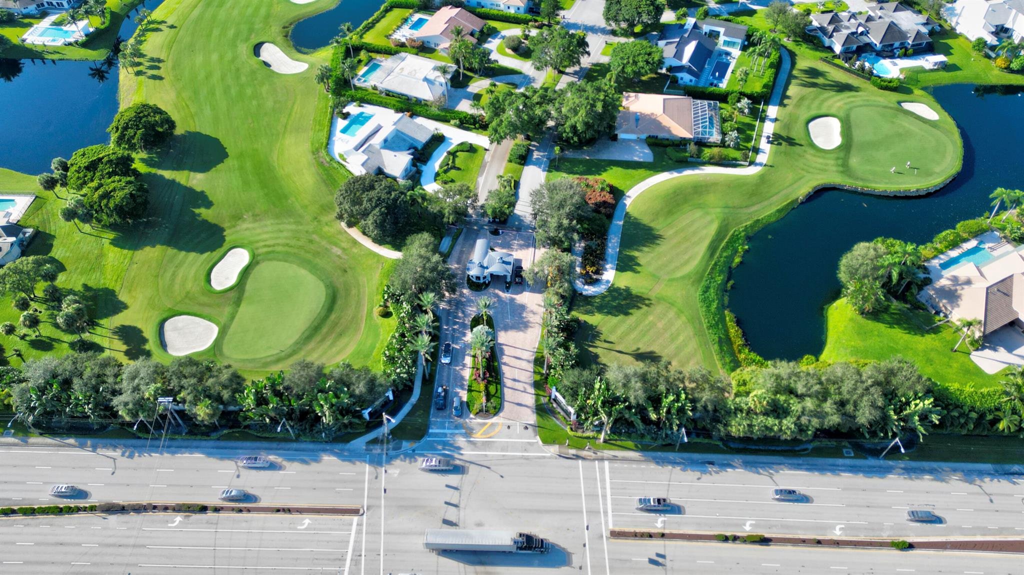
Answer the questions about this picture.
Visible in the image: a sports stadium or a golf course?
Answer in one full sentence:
Of the two, only a golf course appears.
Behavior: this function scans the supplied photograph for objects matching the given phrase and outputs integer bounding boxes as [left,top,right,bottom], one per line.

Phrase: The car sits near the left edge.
[49,486,78,498]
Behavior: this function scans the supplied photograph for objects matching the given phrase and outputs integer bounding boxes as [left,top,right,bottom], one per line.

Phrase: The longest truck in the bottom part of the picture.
[423,534,548,558]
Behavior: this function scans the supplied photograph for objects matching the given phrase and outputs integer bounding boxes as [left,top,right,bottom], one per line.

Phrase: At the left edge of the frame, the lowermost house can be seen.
[0,225,37,268]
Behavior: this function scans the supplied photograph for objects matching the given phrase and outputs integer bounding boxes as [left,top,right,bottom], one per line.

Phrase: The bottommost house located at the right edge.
[925,249,1024,339]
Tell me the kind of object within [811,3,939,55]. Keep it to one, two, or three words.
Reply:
house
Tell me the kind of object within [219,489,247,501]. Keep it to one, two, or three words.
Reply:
vehicle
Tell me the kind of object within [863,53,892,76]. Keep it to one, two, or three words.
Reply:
swimming pool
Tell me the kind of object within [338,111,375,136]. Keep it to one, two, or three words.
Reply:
swimming pool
